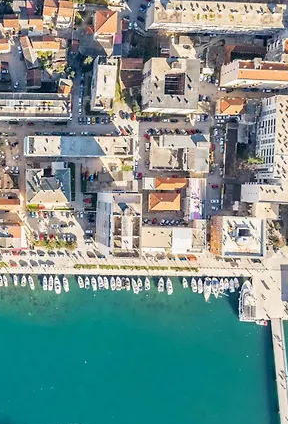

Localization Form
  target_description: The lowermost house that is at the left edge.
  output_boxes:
[0,225,28,251]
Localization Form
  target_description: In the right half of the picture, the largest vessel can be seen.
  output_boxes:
[239,281,257,324]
